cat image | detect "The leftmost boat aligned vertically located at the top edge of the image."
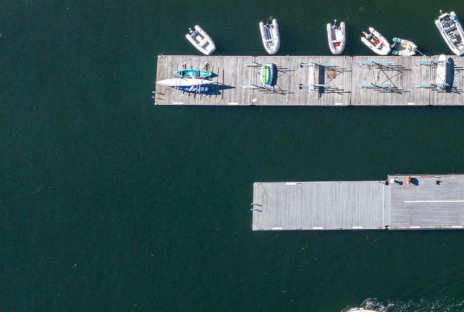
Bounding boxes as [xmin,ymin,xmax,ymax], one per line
[259,14,279,54]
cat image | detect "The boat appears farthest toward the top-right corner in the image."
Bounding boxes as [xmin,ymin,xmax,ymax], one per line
[435,6,464,56]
